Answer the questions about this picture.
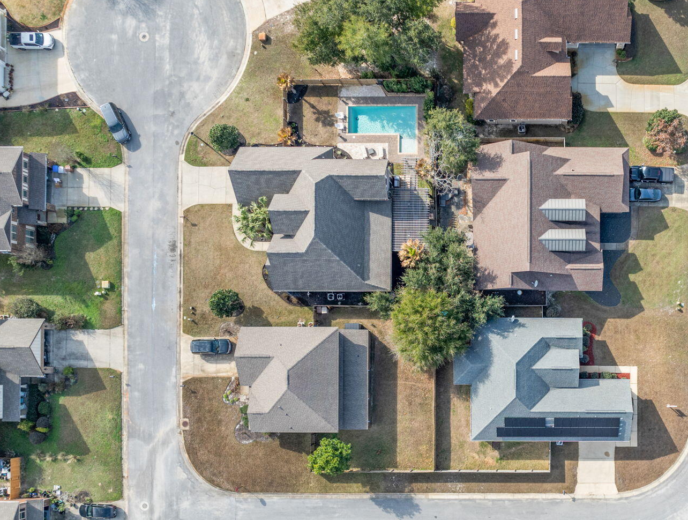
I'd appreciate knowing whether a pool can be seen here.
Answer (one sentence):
Yes, this view includes a pool.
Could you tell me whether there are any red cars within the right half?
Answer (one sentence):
No, the scene shows no red car within the right half.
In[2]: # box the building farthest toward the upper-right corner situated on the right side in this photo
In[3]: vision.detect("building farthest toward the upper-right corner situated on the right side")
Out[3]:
[455,0,631,124]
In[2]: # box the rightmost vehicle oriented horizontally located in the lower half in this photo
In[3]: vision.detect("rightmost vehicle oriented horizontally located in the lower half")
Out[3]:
[190,338,234,356]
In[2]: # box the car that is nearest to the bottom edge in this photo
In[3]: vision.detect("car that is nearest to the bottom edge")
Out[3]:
[80,502,121,520]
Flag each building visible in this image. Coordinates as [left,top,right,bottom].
[470,139,629,292]
[0,146,56,254]
[227,146,395,292]
[453,317,633,442]
[0,4,8,91]
[0,496,54,520]
[0,318,58,422]
[455,0,631,124]
[234,326,369,433]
